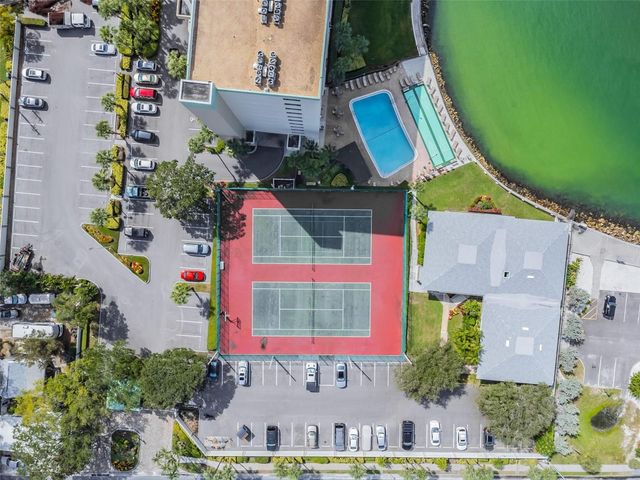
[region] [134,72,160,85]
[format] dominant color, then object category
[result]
white vehicle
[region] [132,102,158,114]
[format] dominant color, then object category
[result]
white vehicle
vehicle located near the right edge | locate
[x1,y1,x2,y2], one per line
[601,295,616,319]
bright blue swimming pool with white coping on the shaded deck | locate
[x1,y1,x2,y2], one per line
[351,91,416,177]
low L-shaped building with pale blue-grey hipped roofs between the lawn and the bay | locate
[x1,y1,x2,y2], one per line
[419,211,572,386]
